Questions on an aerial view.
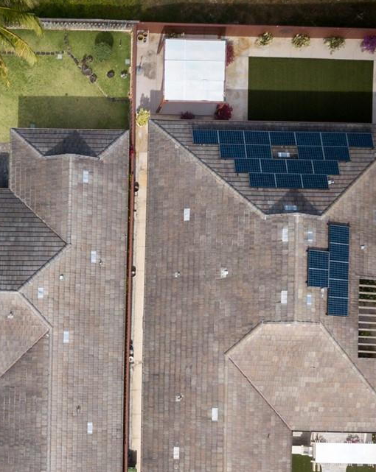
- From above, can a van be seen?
No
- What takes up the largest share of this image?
buildings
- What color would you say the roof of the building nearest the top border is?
white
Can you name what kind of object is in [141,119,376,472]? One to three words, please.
house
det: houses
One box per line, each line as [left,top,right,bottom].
[0,127,131,472]
[141,119,376,472]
